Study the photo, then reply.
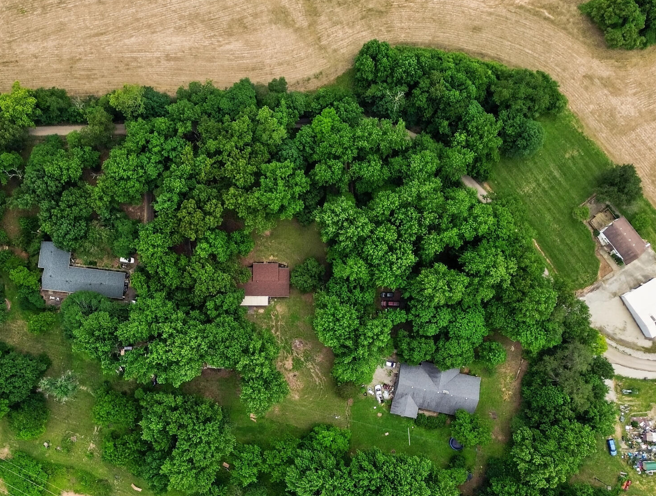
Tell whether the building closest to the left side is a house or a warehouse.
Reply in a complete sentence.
Specifically, the building closest to the left side is a house.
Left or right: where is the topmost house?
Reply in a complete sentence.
The topmost house sits on the right side.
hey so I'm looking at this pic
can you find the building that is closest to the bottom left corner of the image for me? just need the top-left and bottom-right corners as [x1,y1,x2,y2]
[39,241,127,298]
